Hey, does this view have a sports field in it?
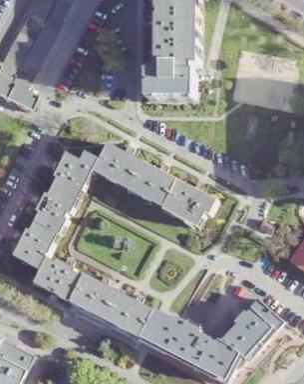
Yes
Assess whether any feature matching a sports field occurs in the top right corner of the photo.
Yes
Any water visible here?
No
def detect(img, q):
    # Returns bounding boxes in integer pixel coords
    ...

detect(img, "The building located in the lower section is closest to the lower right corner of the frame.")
[223,300,288,356]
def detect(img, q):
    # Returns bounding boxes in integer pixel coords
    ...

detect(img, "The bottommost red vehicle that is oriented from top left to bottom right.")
[231,284,246,299]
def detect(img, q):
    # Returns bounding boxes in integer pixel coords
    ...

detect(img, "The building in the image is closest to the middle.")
[93,143,222,228]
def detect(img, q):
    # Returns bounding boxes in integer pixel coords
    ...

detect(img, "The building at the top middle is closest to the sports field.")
[141,0,208,101]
